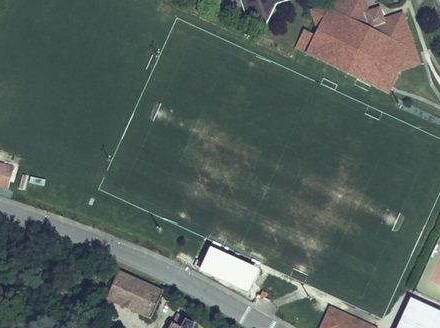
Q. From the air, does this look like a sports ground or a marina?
sports ground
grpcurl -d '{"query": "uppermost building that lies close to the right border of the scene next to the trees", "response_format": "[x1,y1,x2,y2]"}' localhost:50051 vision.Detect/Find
[306,0,420,92]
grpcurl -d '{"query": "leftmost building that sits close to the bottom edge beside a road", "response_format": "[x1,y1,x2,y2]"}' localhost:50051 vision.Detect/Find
[108,268,161,318]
